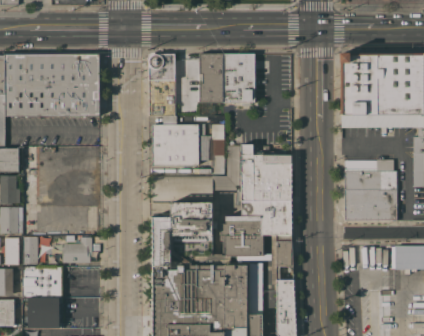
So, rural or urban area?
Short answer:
urban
